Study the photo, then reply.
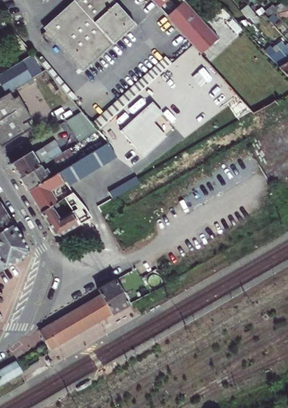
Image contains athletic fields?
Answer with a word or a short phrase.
No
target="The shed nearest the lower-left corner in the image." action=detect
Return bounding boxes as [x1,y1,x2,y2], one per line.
[0,360,23,386]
